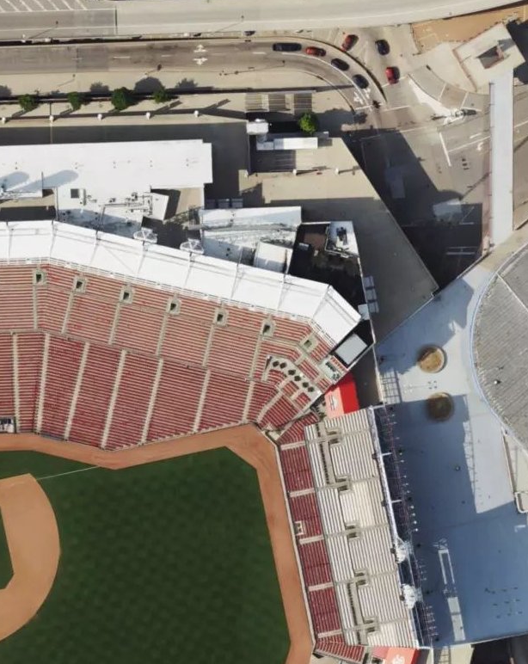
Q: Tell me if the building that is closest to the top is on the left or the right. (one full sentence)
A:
The building that is closest to the top is on the right side of the image.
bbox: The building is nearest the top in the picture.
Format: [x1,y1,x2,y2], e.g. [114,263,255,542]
[453,22,528,92]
